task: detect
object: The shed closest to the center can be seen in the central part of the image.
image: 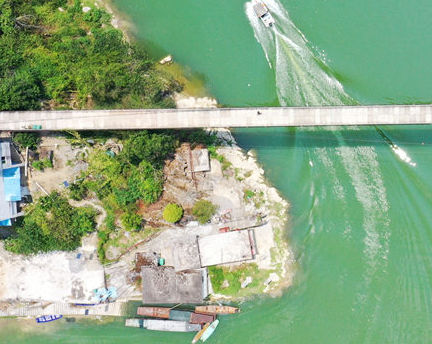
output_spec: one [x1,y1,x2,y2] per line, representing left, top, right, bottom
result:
[193,148,213,171]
